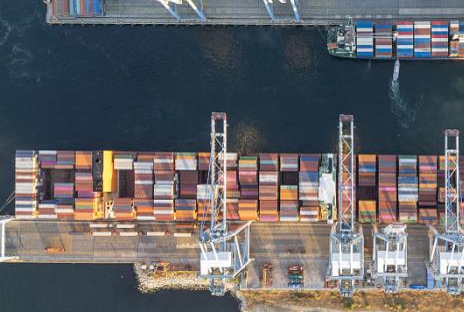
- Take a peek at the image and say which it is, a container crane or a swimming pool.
container crane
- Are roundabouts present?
No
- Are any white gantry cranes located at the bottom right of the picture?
Yes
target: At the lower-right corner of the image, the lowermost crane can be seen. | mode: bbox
[367,224,415,298]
